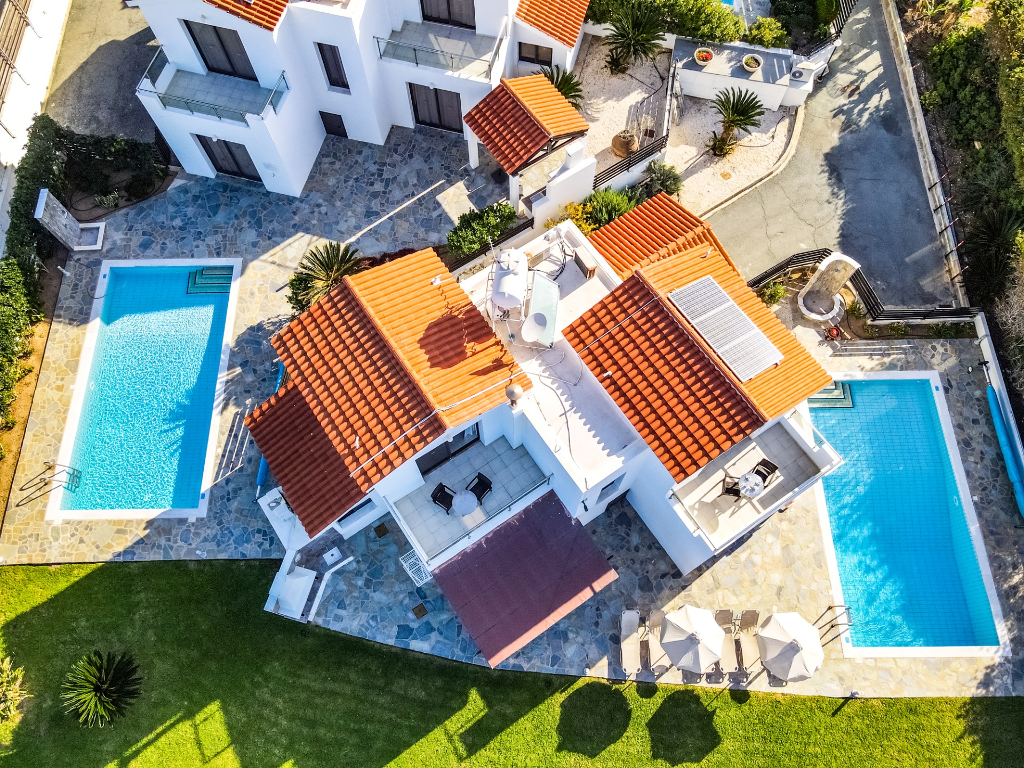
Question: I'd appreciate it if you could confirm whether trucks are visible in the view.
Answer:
No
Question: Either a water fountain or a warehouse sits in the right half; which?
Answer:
water fountain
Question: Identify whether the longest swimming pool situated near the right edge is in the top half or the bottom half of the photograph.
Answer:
bottom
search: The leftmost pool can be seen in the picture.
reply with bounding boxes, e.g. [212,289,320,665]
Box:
[45,257,242,524]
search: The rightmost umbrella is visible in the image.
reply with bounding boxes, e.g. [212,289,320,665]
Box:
[755,612,822,683]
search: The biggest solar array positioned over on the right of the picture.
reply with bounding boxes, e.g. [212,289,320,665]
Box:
[670,272,784,380]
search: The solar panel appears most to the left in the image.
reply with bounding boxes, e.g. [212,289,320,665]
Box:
[532,271,562,354]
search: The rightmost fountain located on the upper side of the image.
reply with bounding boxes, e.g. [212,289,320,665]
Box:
[792,258,854,333]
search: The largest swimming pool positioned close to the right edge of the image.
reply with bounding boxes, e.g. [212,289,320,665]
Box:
[798,371,1012,665]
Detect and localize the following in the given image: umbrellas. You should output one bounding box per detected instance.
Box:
[660,604,726,675]
[755,612,822,683]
